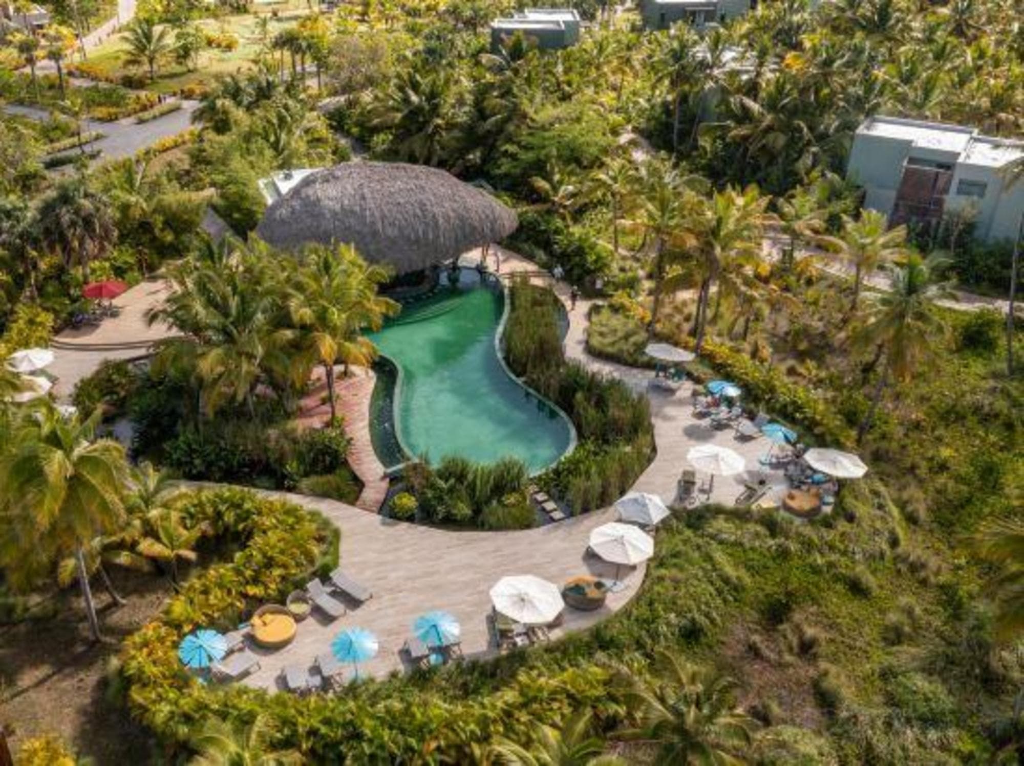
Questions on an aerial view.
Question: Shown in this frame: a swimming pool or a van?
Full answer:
Visible in the photo is a swimming pool.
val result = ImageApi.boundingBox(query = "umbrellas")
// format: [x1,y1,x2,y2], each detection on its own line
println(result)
[0,375,57,428]
[330,629,380,690]
[2,355,59,375]
[759,423,796,466]
[614,486,676,545]
[804,447,863,504]
[78,281,134,326]
[588,524,656,591]
[412,616,460,676]
[491,575,564,649]
[685,446,746,505]
[707,383,741,426]
[644,347,695,395]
